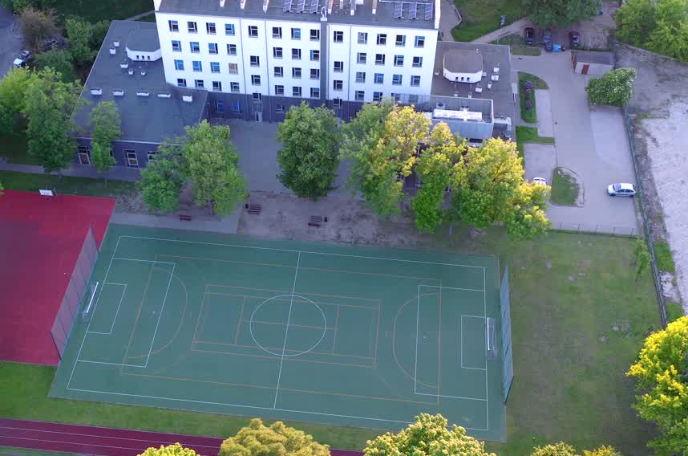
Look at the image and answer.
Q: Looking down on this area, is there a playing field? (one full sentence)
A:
Yes, you can see a playing field in this photo.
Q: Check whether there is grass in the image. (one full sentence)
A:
Yes, grass shows up in the scene.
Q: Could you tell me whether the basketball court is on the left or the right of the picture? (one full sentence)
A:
The basketball court sits on the left side.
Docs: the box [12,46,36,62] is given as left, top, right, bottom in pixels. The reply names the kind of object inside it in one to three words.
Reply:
car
